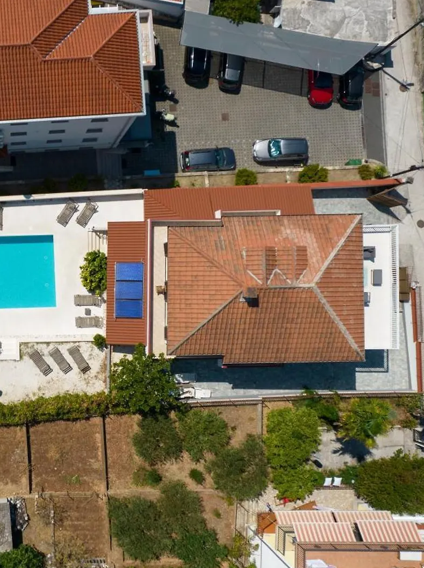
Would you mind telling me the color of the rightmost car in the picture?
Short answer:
black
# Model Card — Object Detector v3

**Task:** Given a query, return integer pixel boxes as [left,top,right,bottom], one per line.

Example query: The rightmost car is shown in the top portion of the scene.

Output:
[333,60,367,118]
